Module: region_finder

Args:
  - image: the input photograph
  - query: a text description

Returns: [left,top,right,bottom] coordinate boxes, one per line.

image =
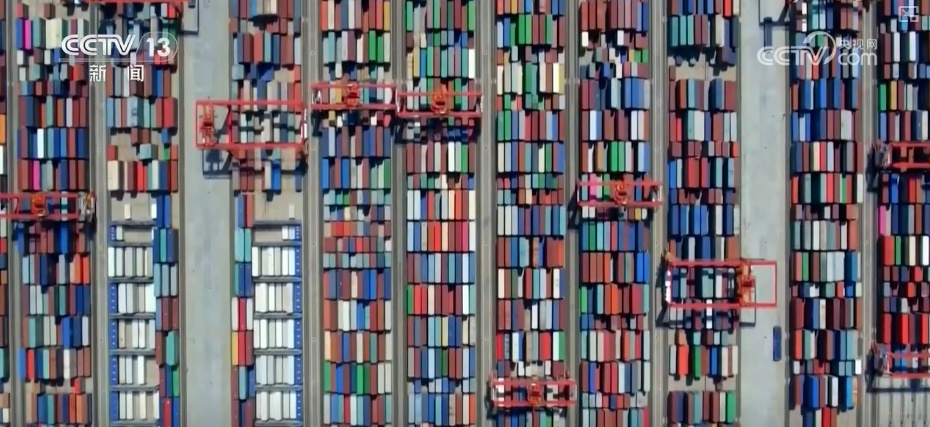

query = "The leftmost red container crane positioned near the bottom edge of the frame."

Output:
[488,363,579,410]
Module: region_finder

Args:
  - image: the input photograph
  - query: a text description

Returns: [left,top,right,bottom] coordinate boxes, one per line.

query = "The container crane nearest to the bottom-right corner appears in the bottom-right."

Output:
[868,336,930,379]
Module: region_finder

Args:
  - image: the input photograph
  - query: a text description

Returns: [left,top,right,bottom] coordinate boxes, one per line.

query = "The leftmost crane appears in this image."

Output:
[0,184,97,227]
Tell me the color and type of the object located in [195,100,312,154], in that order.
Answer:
red container crane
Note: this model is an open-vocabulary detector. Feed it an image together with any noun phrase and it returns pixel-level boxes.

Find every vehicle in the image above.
[764,16,772,53]
[773,324,781,361]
